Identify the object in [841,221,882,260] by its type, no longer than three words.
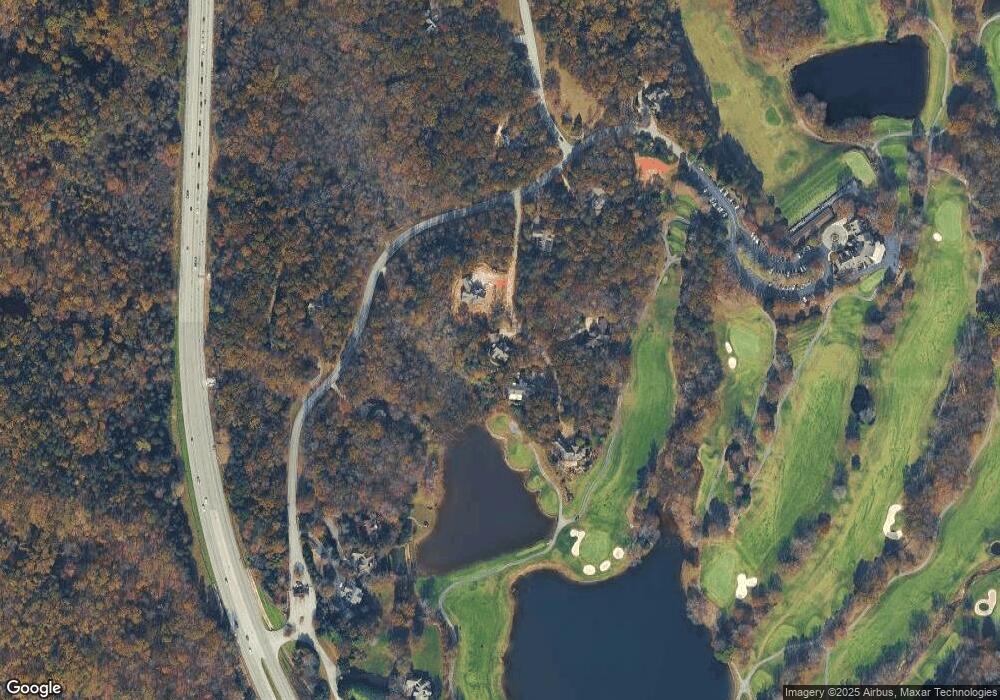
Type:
building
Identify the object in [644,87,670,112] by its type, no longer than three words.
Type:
house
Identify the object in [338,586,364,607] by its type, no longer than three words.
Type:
house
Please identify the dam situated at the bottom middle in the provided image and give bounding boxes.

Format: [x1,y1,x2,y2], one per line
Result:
[432,538,551,591]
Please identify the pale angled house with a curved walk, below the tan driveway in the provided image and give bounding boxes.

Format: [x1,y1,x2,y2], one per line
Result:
[489,340,514,366]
